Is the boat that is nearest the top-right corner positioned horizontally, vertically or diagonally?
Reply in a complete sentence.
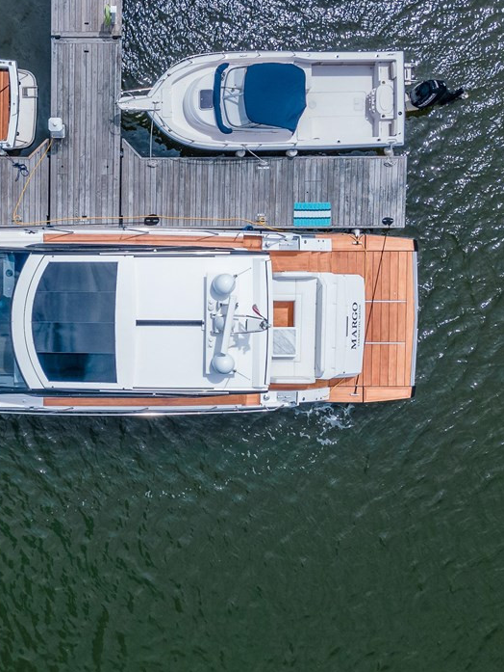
From this overhead view, the boat that is nearest the top-right corner appears to run horizontally.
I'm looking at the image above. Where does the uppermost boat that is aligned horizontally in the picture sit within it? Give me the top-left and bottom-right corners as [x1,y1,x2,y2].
[117,49,469,149]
